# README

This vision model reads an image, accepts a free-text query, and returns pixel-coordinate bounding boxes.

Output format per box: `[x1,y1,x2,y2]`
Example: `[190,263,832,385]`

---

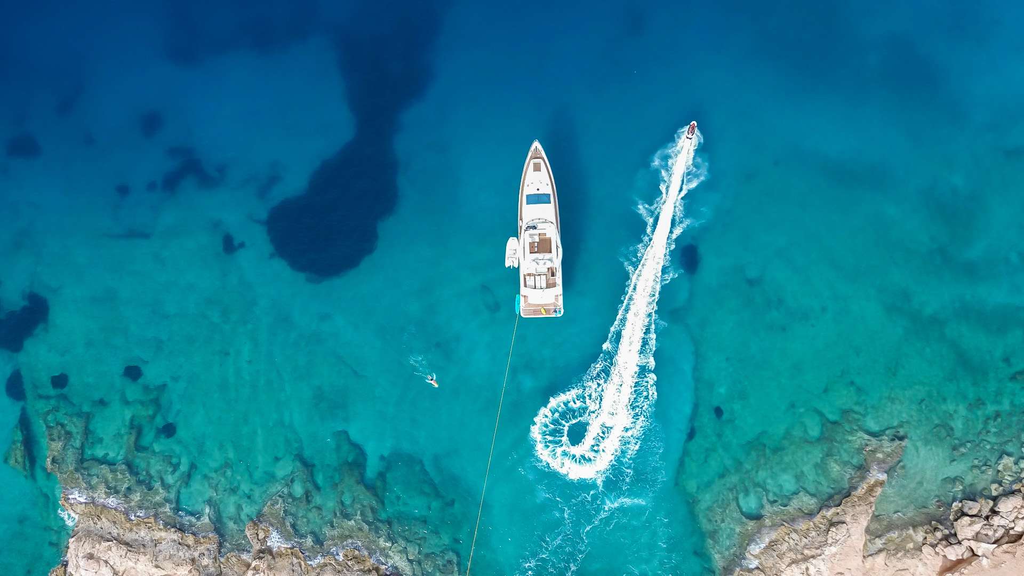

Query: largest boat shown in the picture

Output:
[518,140,563,318]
